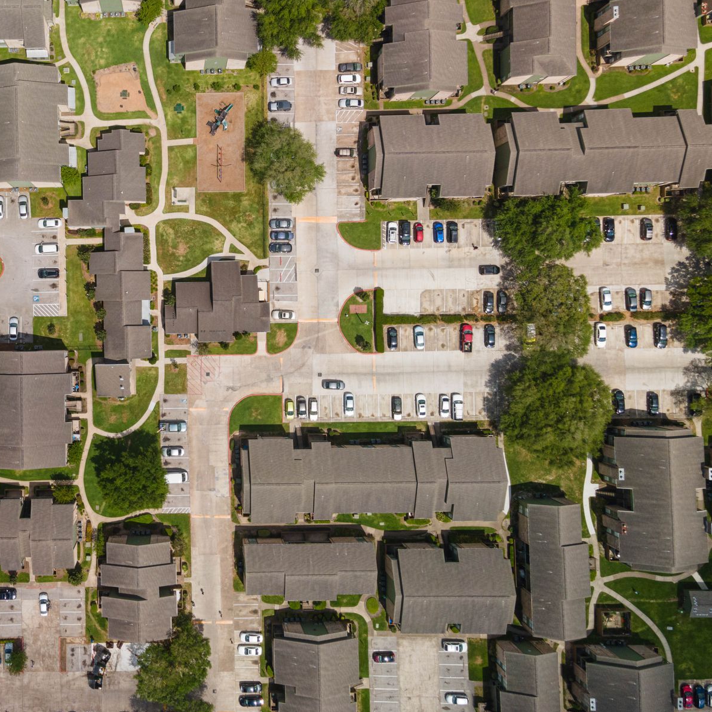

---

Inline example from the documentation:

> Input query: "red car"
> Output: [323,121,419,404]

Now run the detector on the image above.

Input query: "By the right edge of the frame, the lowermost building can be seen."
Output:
[568,647,683,712]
